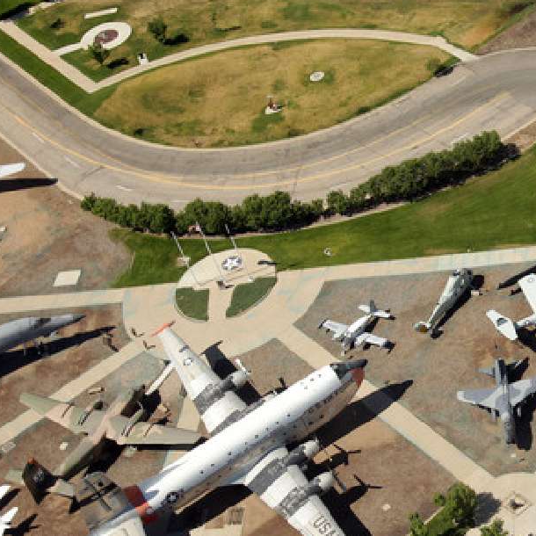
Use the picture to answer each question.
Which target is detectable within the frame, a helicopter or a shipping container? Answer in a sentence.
Looking from above, you can make out a helicopter.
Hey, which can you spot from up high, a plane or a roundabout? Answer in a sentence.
The one in the frame is a plane.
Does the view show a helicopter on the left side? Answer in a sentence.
No, the scene shows no helicopter on the left side.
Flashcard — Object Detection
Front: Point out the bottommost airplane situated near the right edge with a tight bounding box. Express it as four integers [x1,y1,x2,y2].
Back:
[458,350,536,447]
